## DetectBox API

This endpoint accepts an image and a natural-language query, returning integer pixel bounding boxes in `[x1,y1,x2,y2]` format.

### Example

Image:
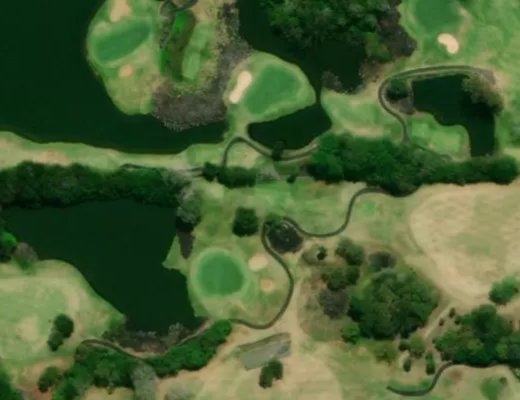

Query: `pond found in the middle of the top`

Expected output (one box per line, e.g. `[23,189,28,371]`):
[238,0,367,150]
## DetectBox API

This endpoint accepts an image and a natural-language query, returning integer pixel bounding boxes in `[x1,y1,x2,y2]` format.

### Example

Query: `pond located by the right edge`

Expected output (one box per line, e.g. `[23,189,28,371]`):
[412,73,497,161]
